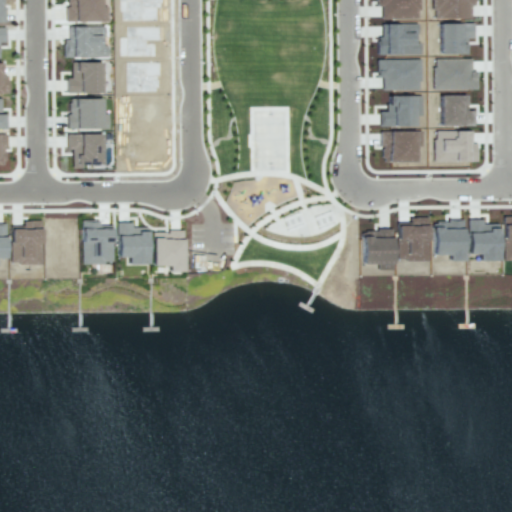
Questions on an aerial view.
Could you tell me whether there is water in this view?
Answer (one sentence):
Yes, there is water in the image.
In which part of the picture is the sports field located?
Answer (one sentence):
The sports field is in the top part of the image.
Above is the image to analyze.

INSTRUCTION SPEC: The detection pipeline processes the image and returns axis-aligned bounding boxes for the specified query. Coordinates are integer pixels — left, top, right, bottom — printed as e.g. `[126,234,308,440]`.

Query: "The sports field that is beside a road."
[214,0,327,178]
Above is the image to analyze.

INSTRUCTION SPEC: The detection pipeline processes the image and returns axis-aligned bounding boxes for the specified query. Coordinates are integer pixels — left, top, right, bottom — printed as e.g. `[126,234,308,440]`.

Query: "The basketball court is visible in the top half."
[248,106,290,172]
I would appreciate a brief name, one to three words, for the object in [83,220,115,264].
house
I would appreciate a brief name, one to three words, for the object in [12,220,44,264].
house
